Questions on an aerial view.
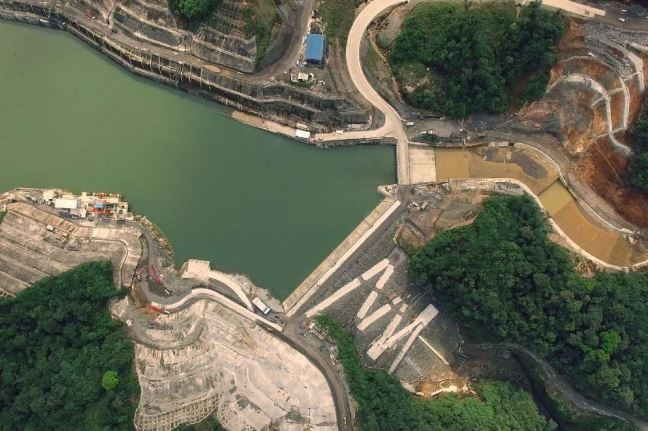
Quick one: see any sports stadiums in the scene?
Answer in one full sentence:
No, I find no sports stadium anywhere in the image.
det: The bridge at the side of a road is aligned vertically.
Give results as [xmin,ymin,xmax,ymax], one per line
[393,142,409,187]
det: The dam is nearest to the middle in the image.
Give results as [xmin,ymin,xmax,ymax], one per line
[277,191,449,375]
